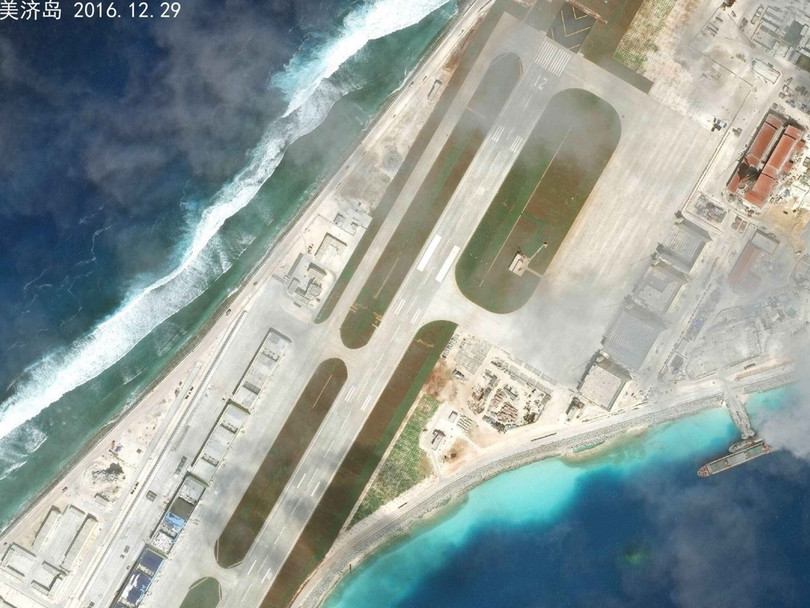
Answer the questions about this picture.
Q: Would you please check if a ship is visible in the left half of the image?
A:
No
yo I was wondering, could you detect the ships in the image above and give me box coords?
[697,440,774,474]
[729,436,758,453]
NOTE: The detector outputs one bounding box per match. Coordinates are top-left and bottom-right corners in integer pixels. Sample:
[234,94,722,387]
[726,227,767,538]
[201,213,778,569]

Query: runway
[215,33,574,608]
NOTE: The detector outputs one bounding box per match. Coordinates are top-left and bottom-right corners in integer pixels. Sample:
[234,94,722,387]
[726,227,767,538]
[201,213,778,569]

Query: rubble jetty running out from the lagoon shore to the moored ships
[729,386,753,437]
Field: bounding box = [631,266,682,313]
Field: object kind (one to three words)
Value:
hangar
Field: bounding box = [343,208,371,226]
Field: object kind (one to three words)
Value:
building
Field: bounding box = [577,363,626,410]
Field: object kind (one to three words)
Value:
hangar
